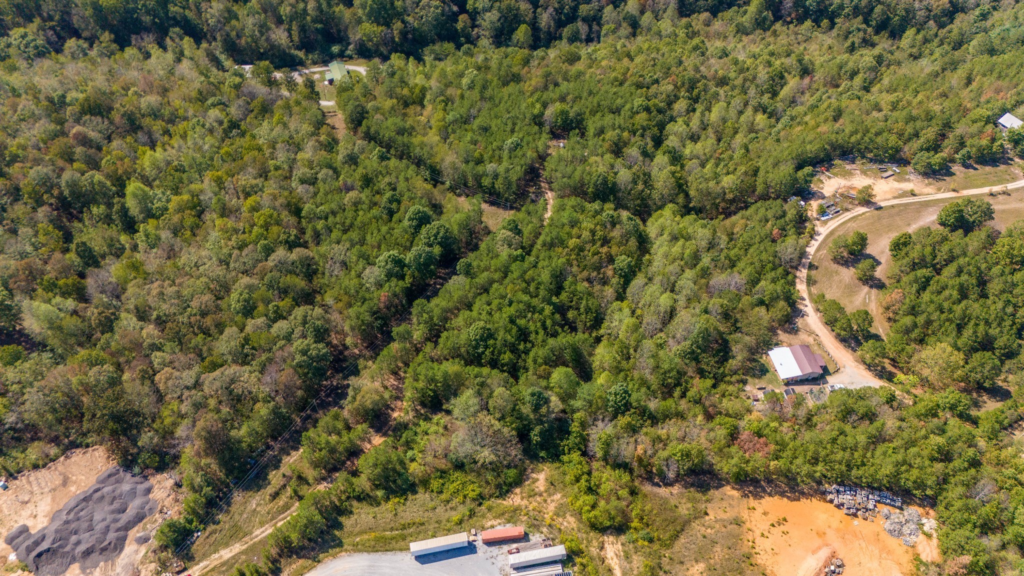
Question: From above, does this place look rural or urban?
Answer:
rural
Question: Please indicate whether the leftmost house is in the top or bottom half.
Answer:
top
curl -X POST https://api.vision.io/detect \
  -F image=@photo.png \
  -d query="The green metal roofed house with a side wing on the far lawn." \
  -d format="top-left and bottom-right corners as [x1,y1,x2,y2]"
[326,63,355,91]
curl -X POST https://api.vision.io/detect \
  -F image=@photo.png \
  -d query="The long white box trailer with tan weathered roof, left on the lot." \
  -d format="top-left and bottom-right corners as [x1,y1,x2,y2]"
[410,532,468,557]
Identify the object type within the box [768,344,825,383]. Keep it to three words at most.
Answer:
house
